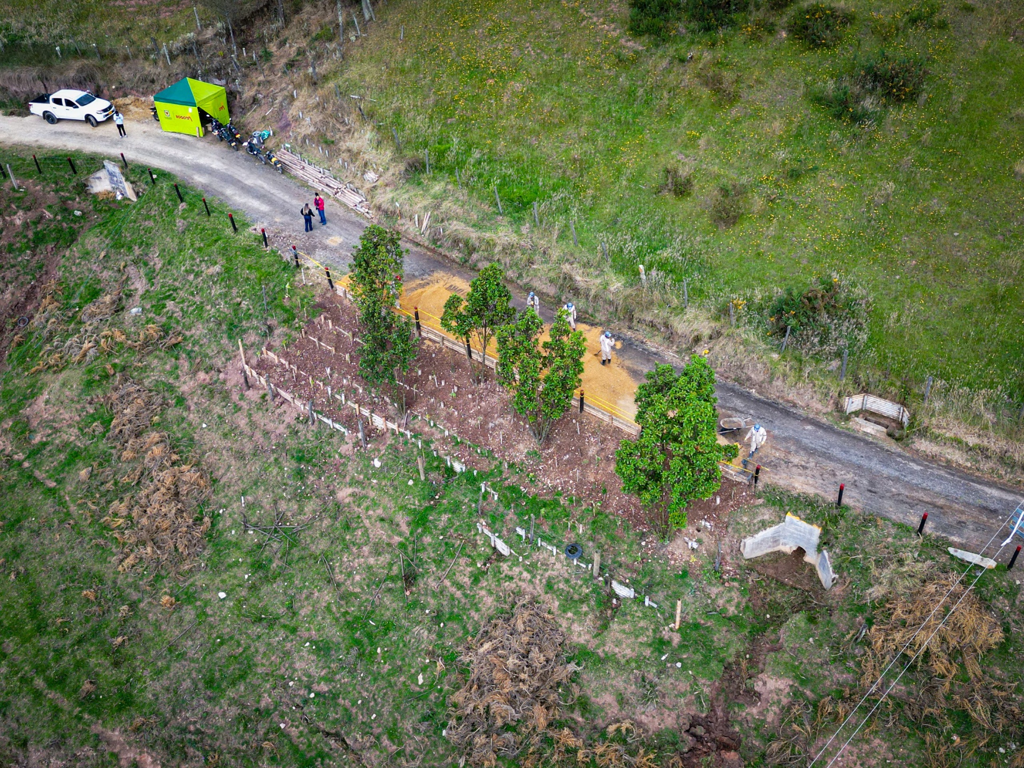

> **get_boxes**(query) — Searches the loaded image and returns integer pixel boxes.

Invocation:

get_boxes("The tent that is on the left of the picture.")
[154,78,231,140]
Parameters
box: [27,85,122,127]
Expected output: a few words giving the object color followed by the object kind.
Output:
white truck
